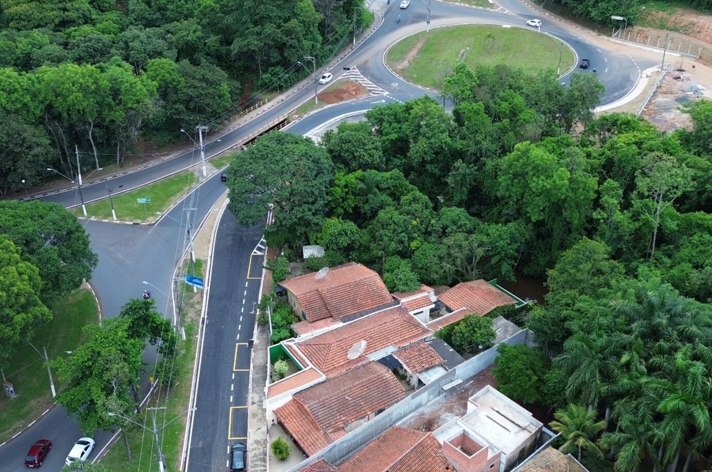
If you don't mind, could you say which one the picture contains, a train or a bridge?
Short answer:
bridge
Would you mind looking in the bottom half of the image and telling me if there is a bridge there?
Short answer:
No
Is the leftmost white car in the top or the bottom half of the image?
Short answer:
bottom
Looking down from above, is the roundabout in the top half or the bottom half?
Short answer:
top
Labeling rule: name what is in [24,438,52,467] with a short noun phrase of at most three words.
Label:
car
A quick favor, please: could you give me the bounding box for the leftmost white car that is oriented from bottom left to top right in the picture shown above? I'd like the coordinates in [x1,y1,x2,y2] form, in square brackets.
[62,435,95,466]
